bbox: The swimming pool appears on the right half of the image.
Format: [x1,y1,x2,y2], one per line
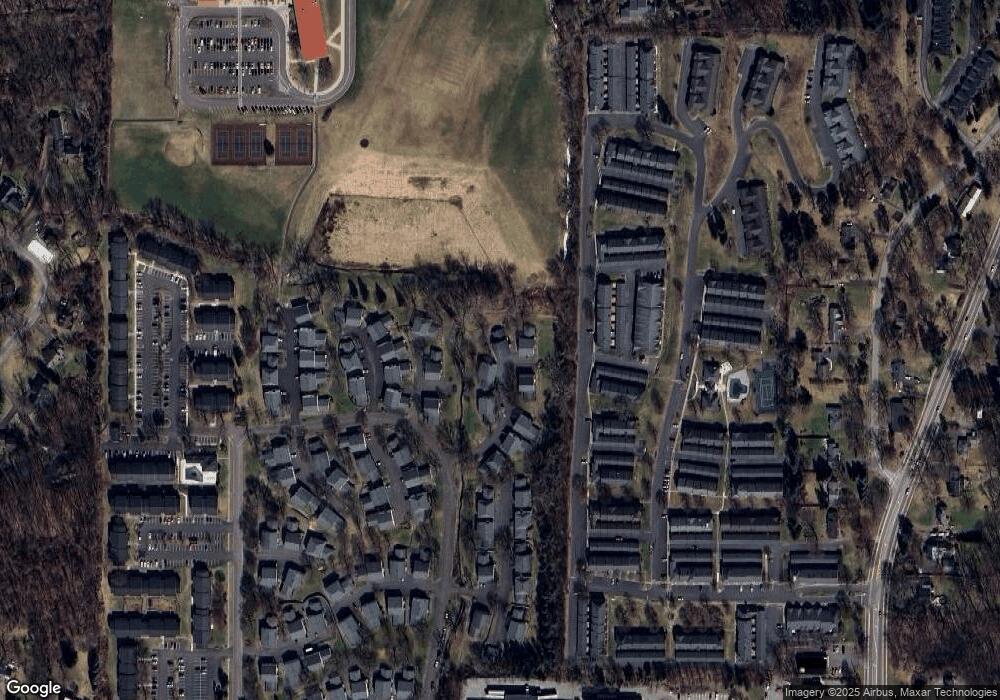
[727,369,749,402]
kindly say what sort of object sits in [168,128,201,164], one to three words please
baseball field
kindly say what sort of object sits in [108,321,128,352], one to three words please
building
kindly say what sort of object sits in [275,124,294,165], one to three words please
tennis court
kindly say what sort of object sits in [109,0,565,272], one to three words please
sports field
